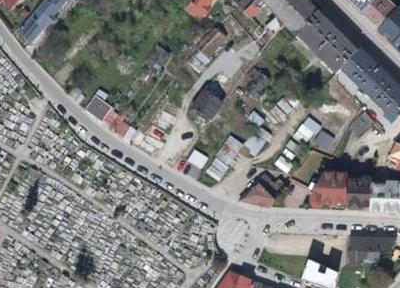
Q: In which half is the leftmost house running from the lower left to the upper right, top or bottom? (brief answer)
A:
top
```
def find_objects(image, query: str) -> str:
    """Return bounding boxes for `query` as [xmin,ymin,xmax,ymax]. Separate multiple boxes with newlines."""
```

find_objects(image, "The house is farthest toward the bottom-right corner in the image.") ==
[347,234,397,265]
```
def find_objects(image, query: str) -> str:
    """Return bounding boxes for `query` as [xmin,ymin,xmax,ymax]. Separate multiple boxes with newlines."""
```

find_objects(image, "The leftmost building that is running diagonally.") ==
[18,0,69,44]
